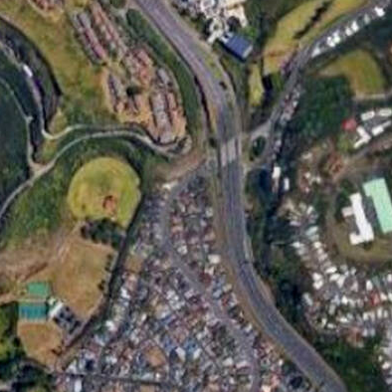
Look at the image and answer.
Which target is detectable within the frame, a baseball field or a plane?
baseball field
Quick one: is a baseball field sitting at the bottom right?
No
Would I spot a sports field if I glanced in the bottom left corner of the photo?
Yes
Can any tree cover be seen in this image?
Yes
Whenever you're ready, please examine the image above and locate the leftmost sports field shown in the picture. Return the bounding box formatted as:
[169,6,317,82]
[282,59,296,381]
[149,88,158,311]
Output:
[16,319,70,369]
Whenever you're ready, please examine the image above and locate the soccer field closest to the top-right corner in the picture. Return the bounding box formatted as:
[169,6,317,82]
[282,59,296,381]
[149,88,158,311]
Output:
[326,51,387,94]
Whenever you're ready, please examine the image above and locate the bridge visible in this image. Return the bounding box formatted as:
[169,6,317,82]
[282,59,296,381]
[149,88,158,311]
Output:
[215,131,242,166]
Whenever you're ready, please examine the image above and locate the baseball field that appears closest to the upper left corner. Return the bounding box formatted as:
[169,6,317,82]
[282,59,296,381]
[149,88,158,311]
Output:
[68,156,140,227]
